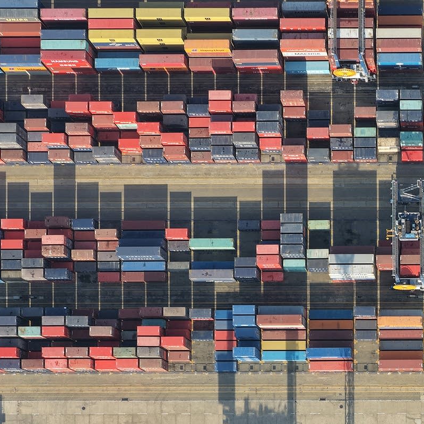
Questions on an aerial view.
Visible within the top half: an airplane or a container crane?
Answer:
container crane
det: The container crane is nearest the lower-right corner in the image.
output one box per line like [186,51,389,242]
[387,178,424,296]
